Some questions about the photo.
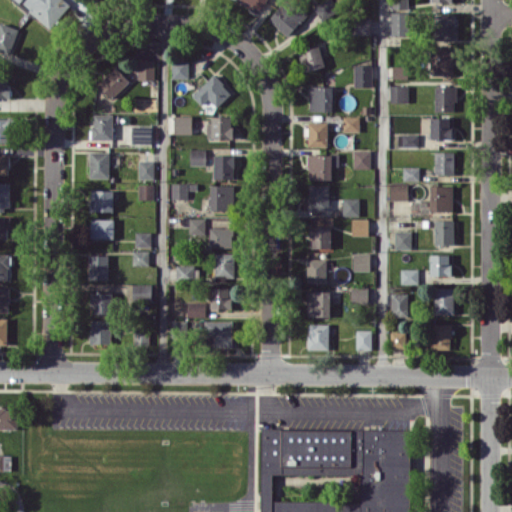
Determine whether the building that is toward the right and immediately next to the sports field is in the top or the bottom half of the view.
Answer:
bottom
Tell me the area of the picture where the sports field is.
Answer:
bottom left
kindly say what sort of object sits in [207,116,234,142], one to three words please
house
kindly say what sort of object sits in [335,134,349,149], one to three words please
swimming pool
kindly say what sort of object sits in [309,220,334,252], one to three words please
house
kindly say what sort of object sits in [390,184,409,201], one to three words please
building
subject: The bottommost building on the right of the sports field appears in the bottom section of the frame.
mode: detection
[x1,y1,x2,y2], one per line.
[262,431,410,512]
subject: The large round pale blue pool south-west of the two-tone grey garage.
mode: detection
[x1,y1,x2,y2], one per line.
[340,94,358,112]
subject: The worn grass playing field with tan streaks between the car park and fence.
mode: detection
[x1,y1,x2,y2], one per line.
[26,431,248,512]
